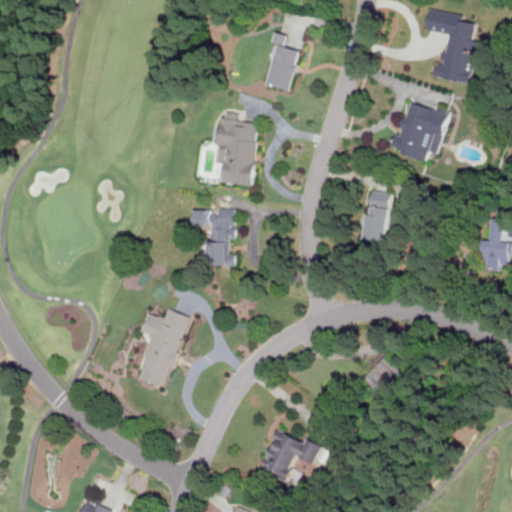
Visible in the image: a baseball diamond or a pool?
pool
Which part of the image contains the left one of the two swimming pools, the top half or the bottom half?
top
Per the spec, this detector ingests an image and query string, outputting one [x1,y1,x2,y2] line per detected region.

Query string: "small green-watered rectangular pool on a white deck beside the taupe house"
[197,142,222,184]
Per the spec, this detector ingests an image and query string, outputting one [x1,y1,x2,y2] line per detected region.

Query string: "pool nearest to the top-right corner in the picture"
[455,140,487,166]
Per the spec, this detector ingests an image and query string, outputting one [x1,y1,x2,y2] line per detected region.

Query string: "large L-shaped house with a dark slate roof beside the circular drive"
[426,8,478,82]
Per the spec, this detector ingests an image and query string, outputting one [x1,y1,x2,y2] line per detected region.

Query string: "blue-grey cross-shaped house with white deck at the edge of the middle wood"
[480,212,512,271]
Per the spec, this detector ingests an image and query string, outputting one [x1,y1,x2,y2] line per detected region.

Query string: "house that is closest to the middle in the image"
[192,209,238,267]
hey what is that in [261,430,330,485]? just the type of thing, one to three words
house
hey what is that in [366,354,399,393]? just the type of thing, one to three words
house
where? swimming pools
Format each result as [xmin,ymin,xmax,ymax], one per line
[197,142,222,184]
[455,140,487,166]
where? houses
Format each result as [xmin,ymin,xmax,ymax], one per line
[361,190,394,241]
[261,430,330,485]
[426,8,478,82]
[480,212,512,271]
[265,32,300,90]
[140,310,190,387]
[84,502,114,512]
[391,103,452,161]
[192,209,238,267]
[366,354,399,393]
[214,112,258,187]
